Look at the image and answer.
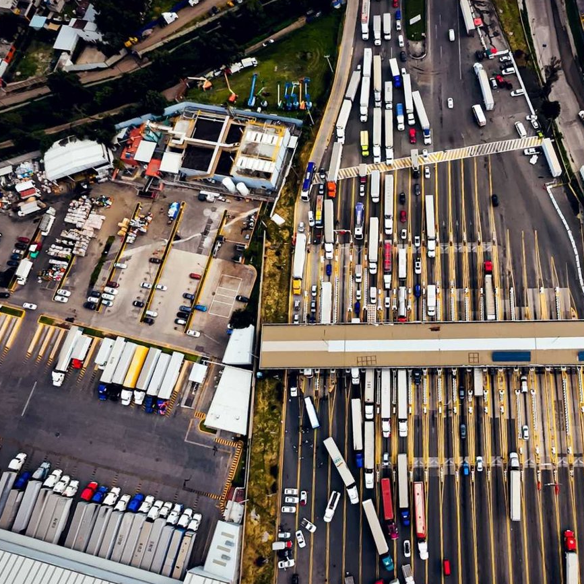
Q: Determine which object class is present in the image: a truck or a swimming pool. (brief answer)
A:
truck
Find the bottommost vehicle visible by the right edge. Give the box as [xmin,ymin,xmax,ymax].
[564,530,578,584]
